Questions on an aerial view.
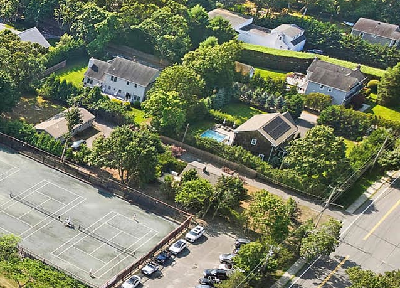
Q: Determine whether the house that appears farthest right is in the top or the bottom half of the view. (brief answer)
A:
top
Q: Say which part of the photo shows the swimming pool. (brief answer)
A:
center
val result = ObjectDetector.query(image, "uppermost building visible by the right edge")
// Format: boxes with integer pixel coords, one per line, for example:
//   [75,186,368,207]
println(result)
[344,14,400,53]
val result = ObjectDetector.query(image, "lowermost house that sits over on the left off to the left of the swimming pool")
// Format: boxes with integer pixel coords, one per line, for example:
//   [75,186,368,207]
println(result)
[27,107,102,141]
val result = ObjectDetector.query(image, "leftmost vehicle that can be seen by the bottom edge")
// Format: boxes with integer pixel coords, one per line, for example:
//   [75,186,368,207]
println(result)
[120,275,142,288]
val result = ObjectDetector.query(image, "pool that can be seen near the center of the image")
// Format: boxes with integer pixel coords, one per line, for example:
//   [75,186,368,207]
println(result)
[188,129,232,152]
